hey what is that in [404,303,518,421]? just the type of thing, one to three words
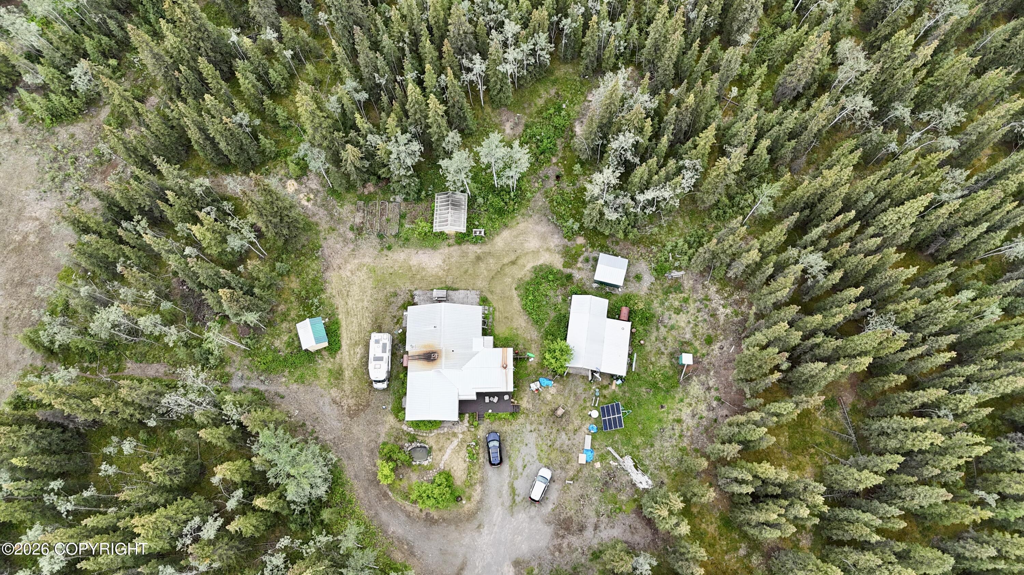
house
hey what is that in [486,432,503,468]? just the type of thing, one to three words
car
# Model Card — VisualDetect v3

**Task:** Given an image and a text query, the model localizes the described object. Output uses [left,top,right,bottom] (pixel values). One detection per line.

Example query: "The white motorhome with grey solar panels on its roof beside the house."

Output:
[370,332,394,391]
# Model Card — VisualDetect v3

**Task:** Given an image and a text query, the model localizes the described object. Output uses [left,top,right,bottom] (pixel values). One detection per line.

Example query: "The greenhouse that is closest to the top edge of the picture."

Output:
[434,190,467,242]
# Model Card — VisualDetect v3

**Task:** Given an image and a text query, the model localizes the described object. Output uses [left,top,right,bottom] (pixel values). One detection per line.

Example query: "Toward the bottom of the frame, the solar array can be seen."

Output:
[600,400,632,432]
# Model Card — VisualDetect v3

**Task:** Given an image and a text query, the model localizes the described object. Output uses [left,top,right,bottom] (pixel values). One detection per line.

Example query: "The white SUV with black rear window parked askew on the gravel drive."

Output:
[529,467,551,505]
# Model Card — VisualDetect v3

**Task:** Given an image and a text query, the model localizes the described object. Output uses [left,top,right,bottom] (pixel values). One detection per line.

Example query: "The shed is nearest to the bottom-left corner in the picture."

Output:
[296,316,330,354]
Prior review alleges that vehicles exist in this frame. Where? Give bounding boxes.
[486,432,503,468]
[529,467,551,505]
[370,332,394,391]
